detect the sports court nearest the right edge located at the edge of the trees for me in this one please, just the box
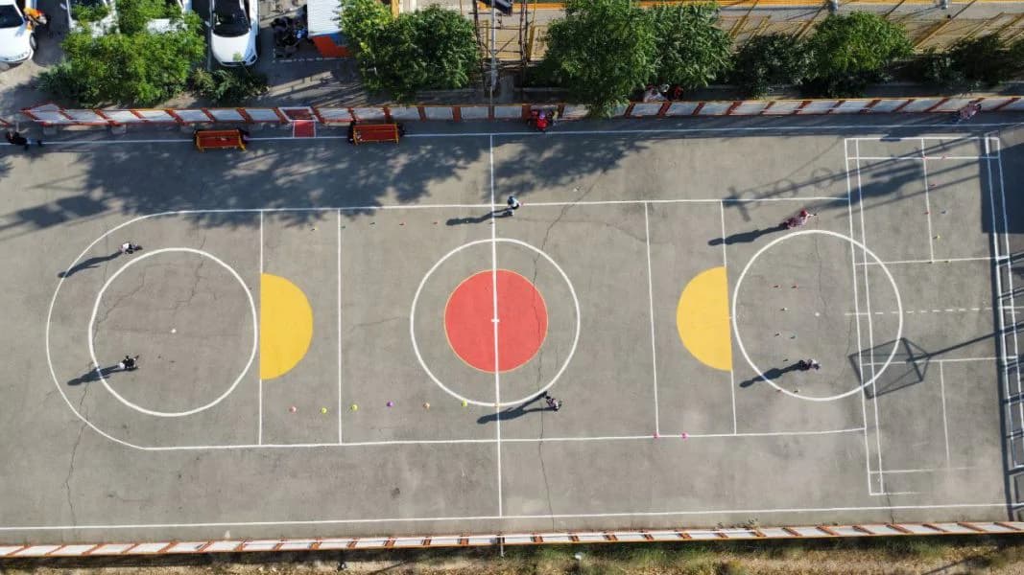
[845,136,1024,496]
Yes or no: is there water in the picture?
No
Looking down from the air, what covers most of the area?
paved ground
